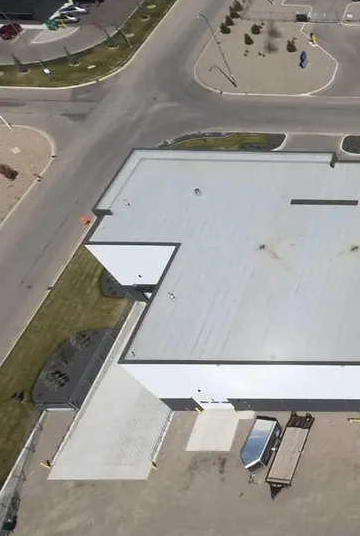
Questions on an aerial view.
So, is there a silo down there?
No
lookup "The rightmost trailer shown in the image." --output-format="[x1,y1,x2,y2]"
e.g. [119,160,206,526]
[267,411,317,499]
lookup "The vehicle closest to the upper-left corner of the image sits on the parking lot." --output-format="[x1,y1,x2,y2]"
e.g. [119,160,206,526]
[0,22,25,38]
